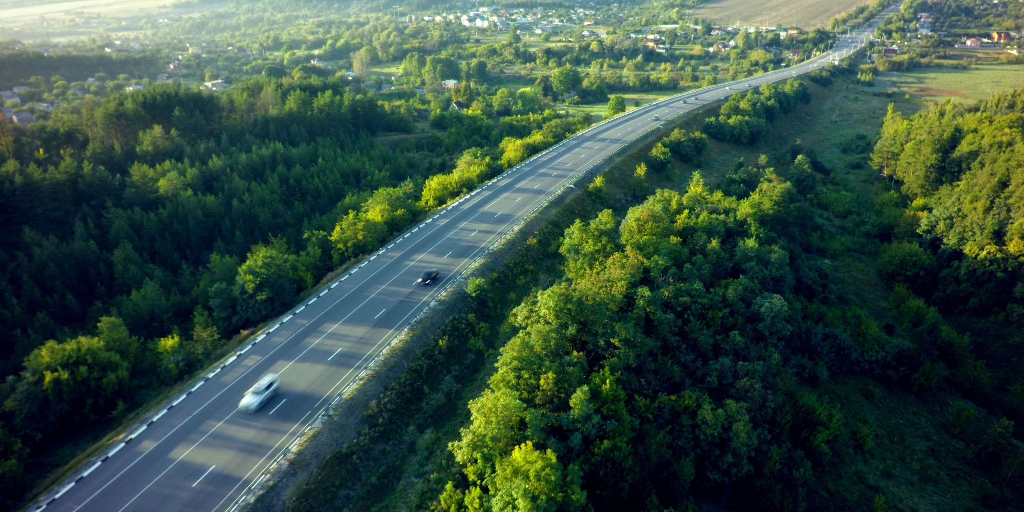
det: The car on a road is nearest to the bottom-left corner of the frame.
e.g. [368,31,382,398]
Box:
[241,376,281,410]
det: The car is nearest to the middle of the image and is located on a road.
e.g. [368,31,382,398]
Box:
[417,266,439,284]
